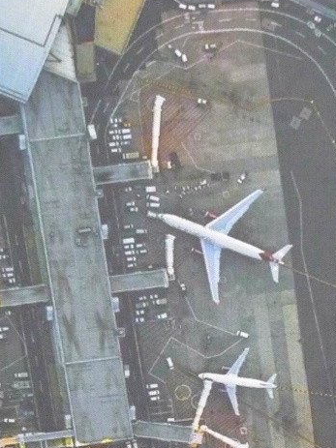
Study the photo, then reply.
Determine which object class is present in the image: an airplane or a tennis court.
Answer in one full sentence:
There is an airplane in the scene.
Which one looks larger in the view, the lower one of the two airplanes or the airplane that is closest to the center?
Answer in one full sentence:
The airplane that is closest to the center takes up more space than the lower one of the two airplanes.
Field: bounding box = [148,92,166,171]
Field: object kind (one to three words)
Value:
jet bridge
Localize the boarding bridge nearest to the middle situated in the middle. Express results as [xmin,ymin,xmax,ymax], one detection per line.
[159,230,175,278]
